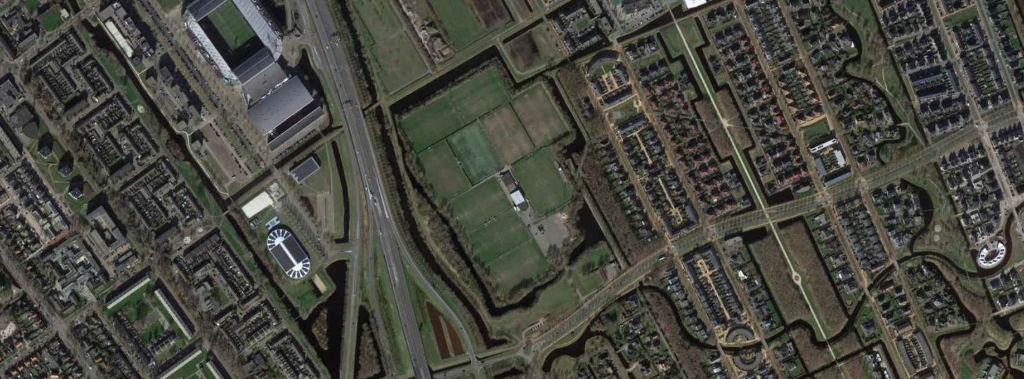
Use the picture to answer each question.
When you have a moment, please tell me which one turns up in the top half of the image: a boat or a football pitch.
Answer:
football pitch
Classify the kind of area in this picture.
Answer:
residential area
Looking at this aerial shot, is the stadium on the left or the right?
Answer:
left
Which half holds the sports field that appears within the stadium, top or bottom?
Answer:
top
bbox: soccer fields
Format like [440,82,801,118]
[419,141,470,201]
[513,147,571,214]
[448,66,511,122]
[513,85,568,146]
[452,176,511,231]
[487,241,549,293]
[446,121,502,185]
[483,105,534,165]
[471,212,531,265]
[402,96,464,153]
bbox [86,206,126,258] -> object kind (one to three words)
building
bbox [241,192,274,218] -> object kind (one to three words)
building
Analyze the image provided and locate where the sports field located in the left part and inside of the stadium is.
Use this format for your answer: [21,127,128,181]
[206,6,256,60]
